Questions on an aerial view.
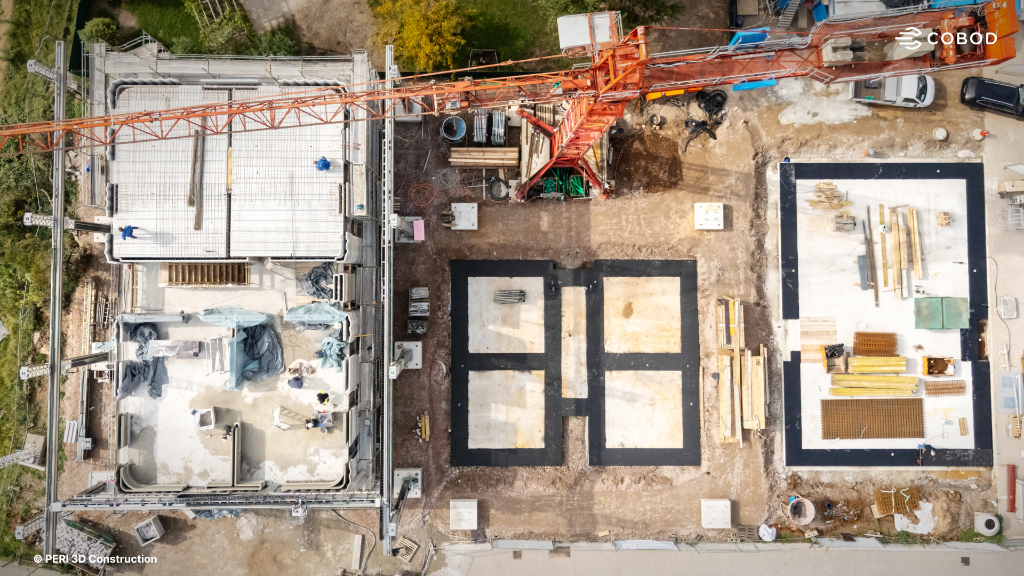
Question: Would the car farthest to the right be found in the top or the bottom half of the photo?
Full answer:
Seen from above, the car farthest to the right lies in the top half of the view.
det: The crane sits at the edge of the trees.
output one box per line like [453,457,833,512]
[0,0,1002,203]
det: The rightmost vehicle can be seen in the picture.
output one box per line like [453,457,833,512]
[960,75,1024,125]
